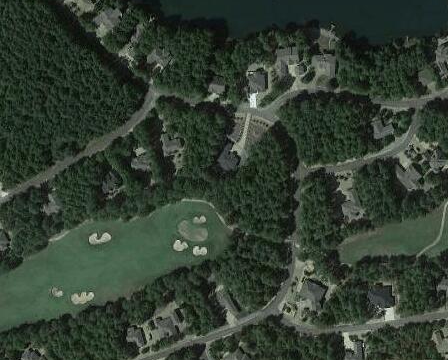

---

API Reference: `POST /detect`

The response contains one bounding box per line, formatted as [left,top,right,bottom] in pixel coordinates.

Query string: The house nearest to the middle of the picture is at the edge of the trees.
[216,143,242,172]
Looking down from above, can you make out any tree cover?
Yes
